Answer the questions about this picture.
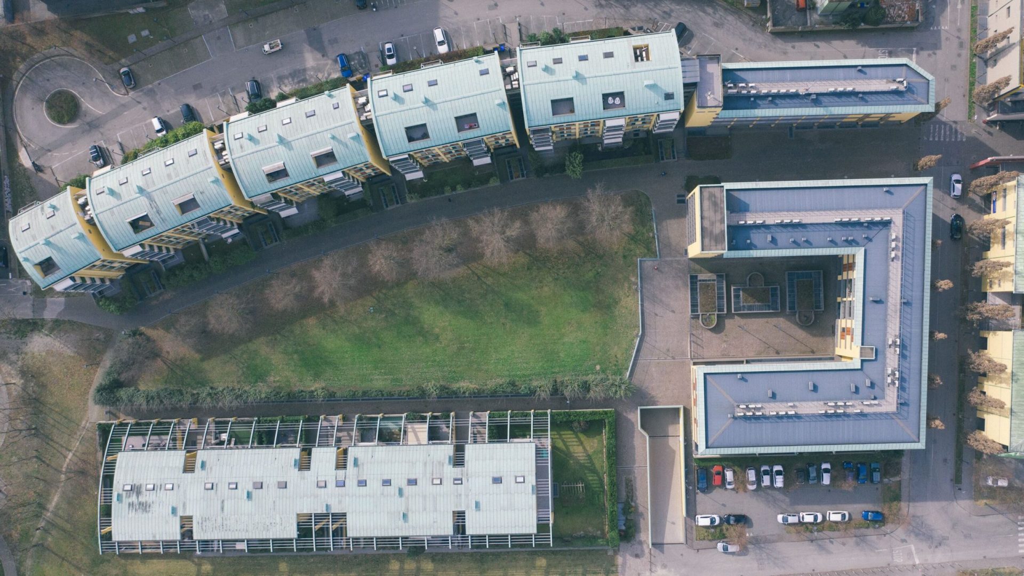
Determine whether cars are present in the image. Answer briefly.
Yes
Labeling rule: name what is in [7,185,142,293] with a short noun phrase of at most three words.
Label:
building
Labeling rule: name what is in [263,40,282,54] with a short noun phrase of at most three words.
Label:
vehicle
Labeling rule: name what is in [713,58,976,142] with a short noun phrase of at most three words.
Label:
building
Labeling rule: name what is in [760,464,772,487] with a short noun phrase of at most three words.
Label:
vehicle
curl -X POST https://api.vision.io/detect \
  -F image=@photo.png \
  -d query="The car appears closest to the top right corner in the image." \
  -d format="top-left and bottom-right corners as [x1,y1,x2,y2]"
[948,173,964,199]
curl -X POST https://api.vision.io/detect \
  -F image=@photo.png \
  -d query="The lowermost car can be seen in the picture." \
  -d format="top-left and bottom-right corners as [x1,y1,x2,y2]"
[716,541,740,554]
